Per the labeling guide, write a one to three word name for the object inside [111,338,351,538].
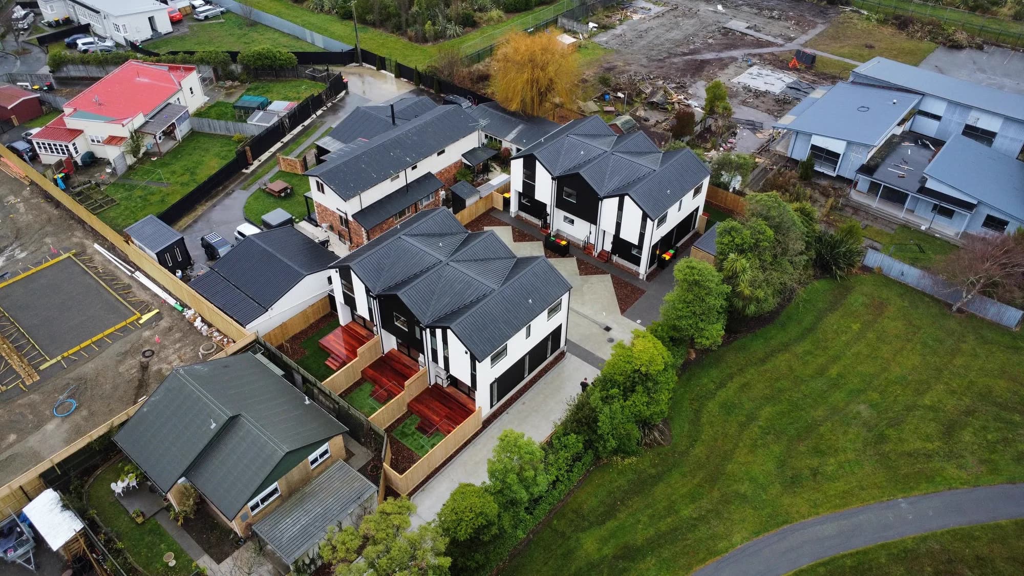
building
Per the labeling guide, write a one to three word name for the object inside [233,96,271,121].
house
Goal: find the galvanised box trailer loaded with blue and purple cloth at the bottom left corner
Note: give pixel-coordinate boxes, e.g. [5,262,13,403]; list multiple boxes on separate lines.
[0,502,37,571]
